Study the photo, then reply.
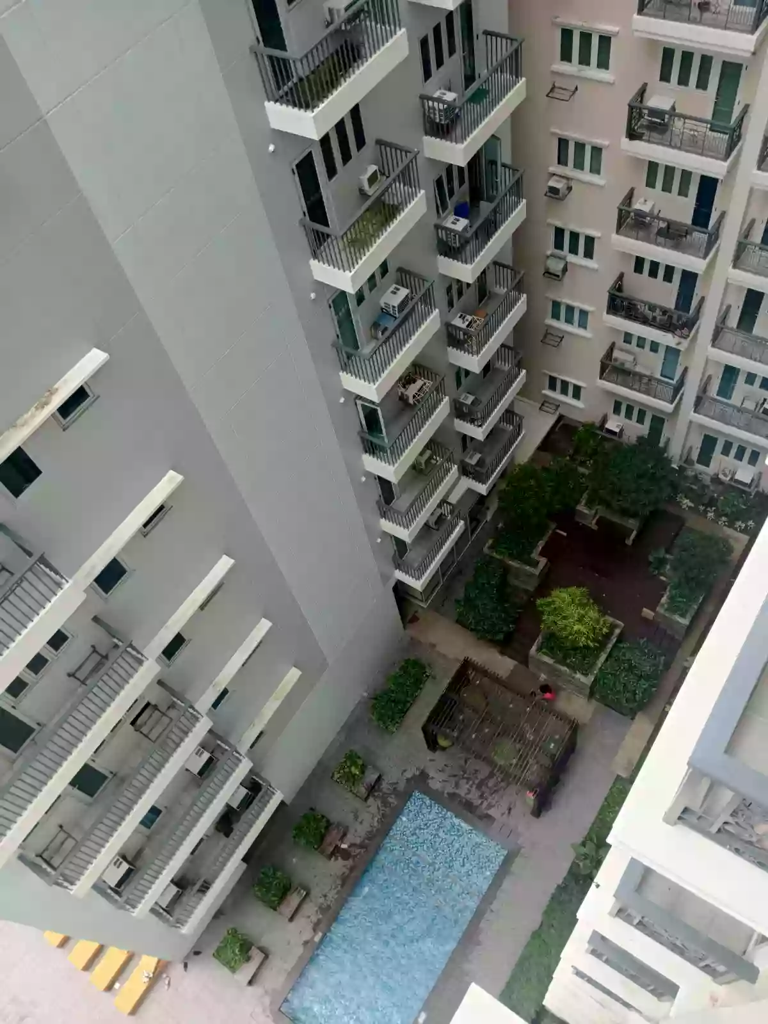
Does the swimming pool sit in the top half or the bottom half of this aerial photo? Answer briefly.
bottom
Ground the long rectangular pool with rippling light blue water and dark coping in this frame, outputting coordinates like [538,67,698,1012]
[267,776,523,1024]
